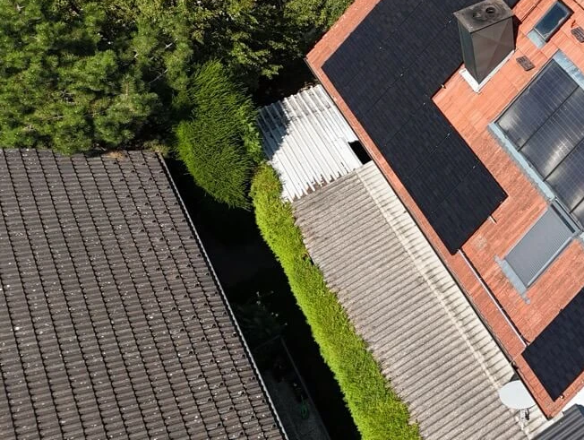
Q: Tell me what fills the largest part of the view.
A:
buildings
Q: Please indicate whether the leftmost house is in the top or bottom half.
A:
bottom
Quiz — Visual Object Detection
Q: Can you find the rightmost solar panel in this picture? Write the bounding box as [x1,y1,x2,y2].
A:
[522,294,584,397]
